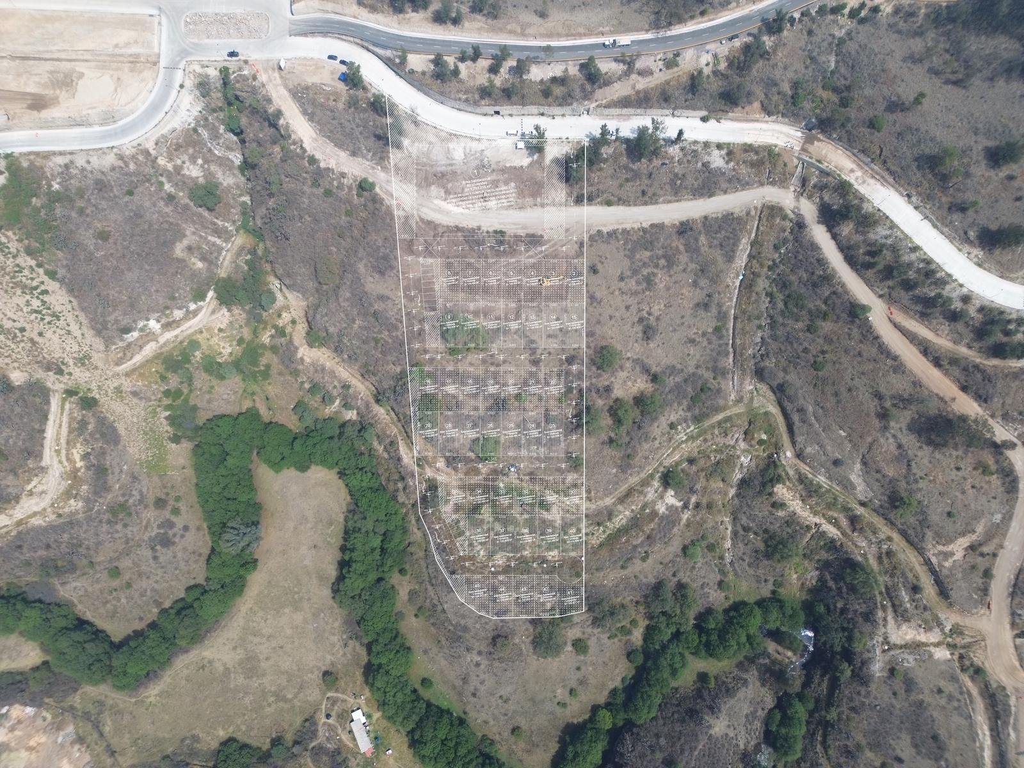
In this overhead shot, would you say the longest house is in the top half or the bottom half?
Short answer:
bottom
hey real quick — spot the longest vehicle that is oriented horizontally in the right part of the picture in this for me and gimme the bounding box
[605,37,632,49]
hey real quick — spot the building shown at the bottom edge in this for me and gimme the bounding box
[345,706,377,753]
